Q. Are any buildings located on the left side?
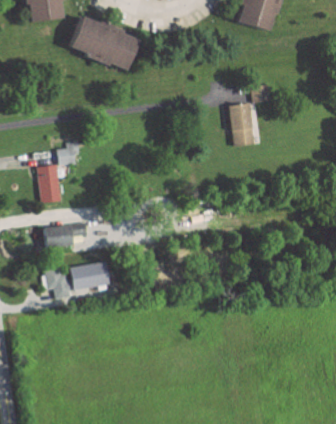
Yes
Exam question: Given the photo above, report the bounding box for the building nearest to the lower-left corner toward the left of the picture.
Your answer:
[42,273,71,301]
